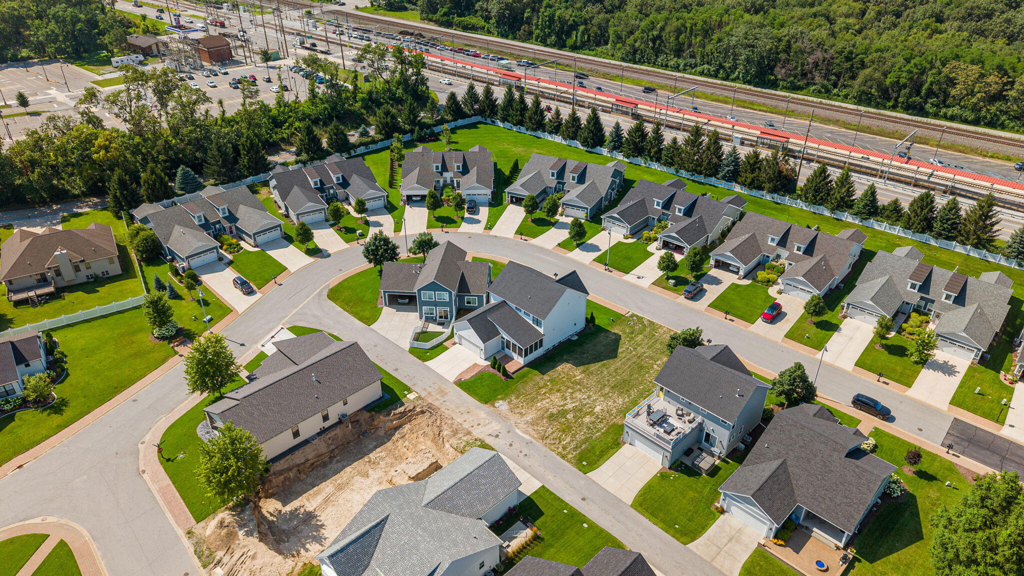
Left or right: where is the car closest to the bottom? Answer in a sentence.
The car closest to the bottom sits on the right side.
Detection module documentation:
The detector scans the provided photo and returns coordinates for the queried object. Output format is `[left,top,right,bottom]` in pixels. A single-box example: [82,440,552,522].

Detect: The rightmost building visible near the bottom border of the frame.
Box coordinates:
[718,398,893,576]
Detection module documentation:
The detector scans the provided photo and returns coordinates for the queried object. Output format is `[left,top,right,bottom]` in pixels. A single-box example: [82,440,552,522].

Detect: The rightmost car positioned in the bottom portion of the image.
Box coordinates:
[850,392,894,421]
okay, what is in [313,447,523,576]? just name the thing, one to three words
house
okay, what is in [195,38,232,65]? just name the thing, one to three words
building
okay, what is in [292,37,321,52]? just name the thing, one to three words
vehicle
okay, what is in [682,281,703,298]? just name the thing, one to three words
car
